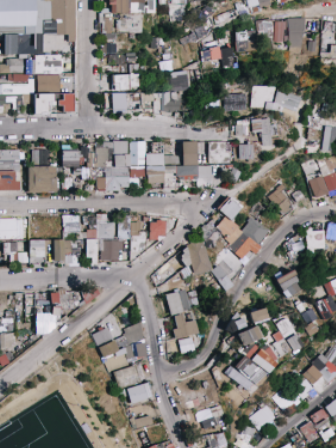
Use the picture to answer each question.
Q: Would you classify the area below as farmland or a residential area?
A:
residential area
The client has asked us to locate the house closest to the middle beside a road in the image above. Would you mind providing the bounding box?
[150,214,167,240]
